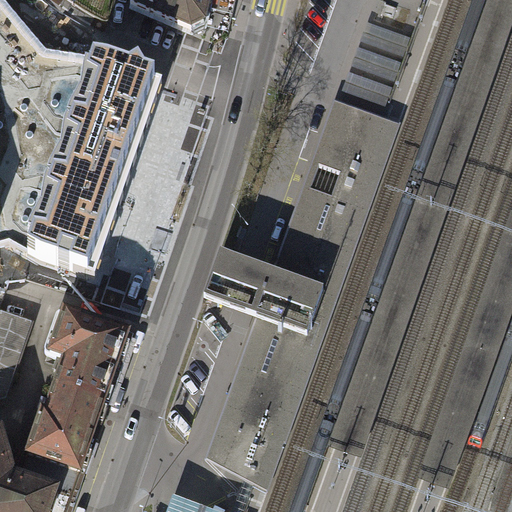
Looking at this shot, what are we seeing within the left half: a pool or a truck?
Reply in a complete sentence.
What appears within the left half is a truck.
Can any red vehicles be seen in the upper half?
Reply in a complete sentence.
Yes, a red vehicle can be seen in the upper half.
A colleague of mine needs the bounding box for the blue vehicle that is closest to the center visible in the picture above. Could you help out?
[270,218,284,240]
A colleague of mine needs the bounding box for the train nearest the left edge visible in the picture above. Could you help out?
[287,0,488,512]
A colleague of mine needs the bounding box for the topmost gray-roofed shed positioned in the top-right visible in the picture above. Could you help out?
[360,24,410,58]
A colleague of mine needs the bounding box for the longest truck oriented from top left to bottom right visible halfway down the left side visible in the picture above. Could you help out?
[58,270,103,314]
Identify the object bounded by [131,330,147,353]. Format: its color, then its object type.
white vehicle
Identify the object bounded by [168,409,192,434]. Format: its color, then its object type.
white vehicle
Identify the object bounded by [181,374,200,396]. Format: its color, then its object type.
white car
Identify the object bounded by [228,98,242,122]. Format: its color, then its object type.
black car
